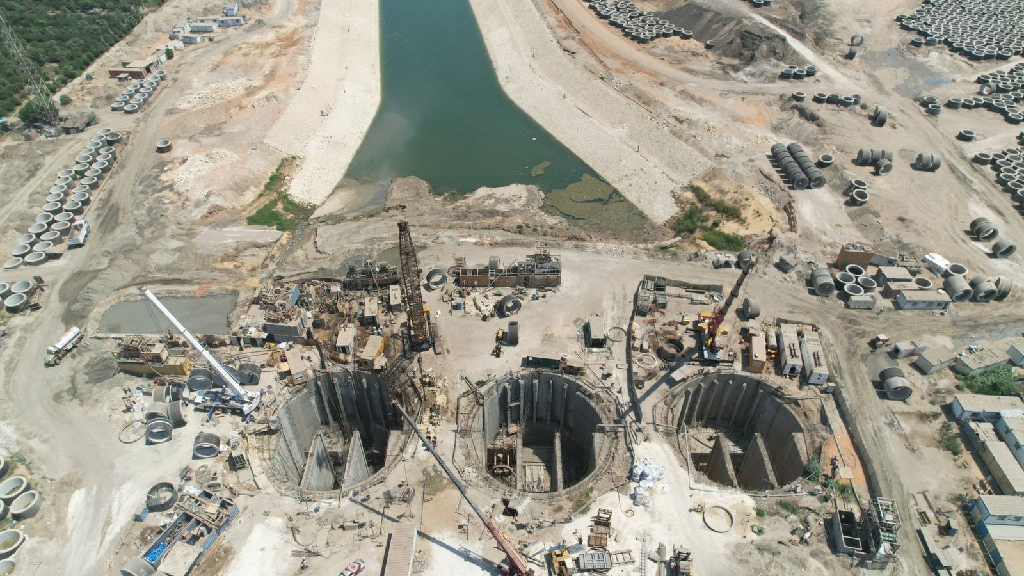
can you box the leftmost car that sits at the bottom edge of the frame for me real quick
[337,555,369,576]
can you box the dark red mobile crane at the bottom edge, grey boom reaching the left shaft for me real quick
[390,400,554,576]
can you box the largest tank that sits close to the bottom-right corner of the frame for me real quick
[821,499,868,561]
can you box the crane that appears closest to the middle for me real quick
[399,220,441,428]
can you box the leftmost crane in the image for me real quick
[135,282,270,436]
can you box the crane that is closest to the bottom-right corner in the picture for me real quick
[680,256,756,378]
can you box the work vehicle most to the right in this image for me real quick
[870,330,894,349]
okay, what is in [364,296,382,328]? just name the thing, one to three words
building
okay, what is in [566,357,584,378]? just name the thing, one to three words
shed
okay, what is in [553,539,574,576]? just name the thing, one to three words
work vehicle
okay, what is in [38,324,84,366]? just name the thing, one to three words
truck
